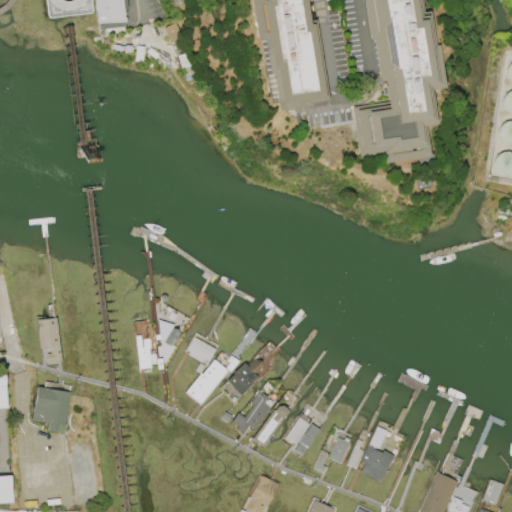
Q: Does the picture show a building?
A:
Yes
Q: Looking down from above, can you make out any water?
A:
Yes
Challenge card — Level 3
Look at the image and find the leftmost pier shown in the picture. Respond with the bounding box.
[28,217,57,302]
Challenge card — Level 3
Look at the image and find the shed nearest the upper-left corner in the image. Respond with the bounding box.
[98,0,127,29]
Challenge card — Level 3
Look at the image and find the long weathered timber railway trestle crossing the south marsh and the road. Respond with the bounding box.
[82,186,136,512]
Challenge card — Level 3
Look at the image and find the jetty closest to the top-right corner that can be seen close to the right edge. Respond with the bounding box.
[420,236,498,260]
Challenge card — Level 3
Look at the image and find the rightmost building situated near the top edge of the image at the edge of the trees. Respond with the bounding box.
[354,0,448,167]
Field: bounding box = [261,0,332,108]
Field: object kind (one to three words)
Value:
building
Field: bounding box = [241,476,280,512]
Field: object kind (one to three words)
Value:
house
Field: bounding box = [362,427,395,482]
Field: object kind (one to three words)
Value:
house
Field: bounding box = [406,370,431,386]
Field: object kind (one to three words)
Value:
boat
